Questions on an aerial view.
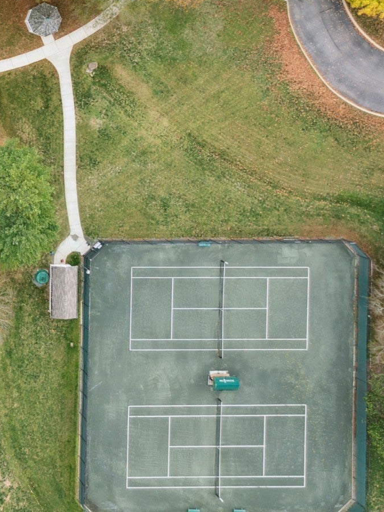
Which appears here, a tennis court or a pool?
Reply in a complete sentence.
It is a tennis court that can be seen here.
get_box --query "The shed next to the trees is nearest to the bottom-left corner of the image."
[47,263,78,320]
